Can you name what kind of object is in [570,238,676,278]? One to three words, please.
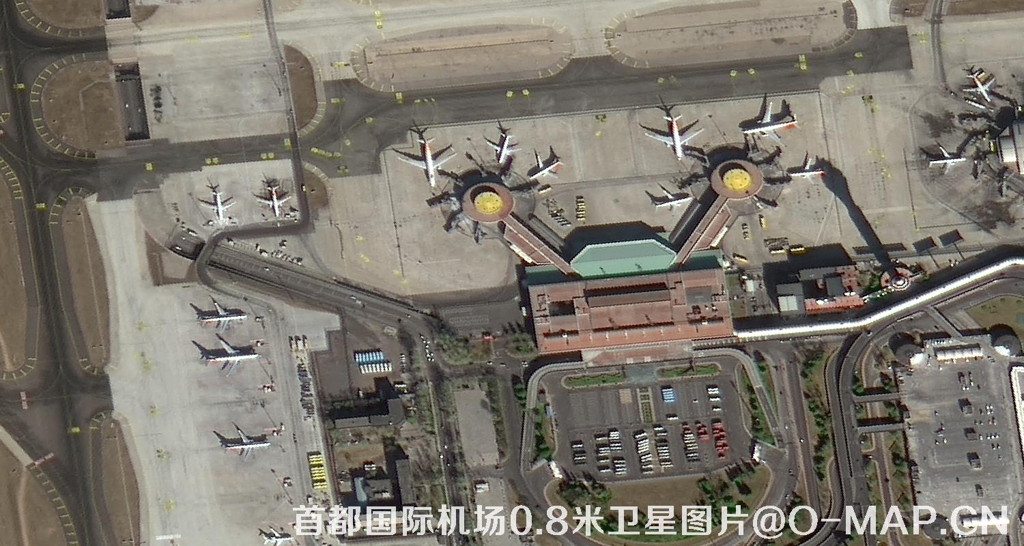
building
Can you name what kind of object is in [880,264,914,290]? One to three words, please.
building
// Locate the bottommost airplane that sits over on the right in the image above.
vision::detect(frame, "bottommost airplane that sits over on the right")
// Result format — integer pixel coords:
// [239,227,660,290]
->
[655,190,692,215]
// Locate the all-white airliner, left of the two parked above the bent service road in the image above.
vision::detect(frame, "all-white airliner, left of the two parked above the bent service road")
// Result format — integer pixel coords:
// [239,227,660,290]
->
[200,190,235,221]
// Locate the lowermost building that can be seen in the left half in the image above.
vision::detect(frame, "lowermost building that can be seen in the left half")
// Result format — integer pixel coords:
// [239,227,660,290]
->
[360,506,438,527]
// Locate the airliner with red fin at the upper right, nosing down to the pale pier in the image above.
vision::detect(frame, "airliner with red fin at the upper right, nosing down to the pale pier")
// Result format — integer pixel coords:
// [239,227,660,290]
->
[963,71,998,102]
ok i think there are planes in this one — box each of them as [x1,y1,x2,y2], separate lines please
[397,135,458,186]
[530,157,566,180]
[963,71,998,102]
[256,185,293,218]
[789,160,824,185]
[264,529,294,546]
[655,190,692,215]
[199,302,248,335]
[742,105,799,145]
[485,131,522,164]
[200,190,235,221]
[222,429,270,463]
[647,113,702,160]
[207,341,259,377]
[929,148,966,174]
